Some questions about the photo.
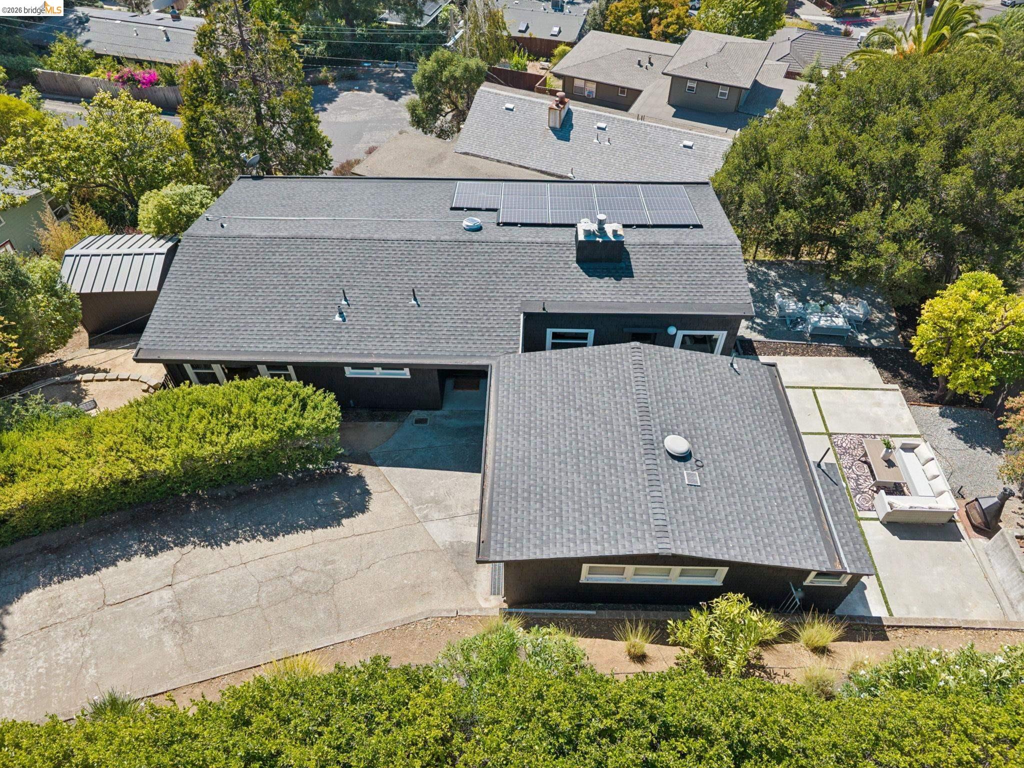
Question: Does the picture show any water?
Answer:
No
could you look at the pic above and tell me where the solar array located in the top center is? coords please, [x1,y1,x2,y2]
[447,178,708,229]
